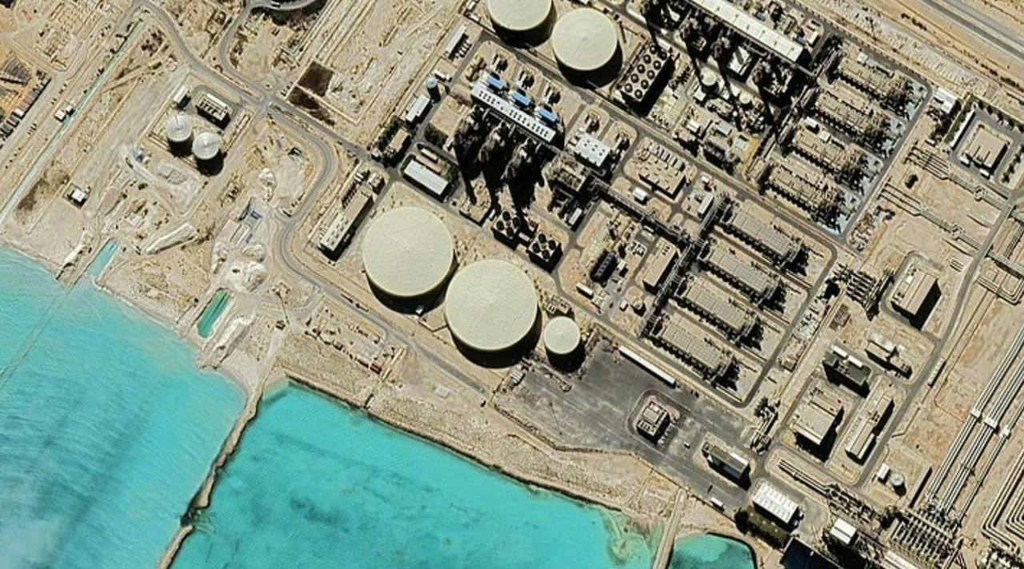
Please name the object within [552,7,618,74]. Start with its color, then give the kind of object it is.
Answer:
white storage tank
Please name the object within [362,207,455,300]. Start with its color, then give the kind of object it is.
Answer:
white storage tank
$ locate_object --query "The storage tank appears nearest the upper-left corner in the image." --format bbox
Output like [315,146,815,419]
[166,115,195,144]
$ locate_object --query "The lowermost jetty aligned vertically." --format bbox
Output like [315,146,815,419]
[654,488,686,569]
